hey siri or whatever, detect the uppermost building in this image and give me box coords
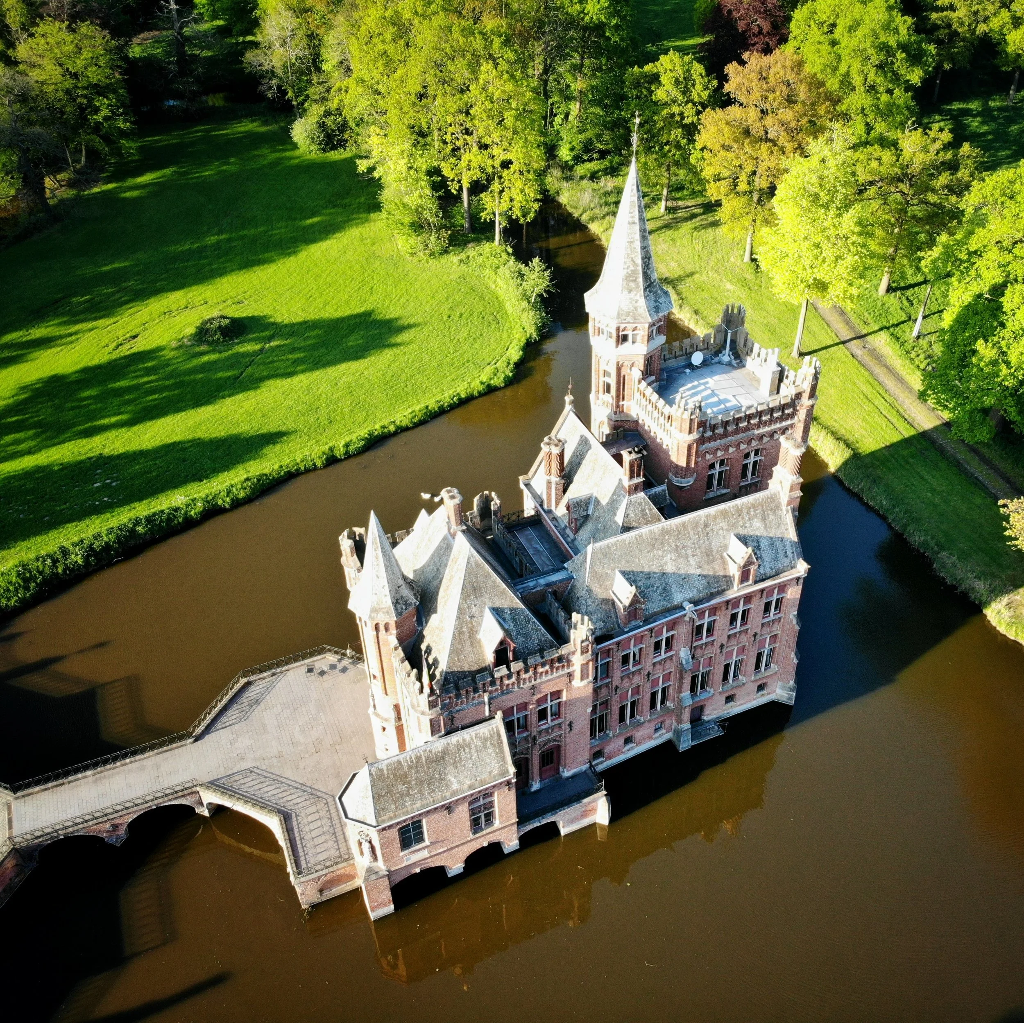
[336,109,822,805]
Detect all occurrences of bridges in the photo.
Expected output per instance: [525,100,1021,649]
[0,651,414,911]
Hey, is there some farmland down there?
No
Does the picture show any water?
Yes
